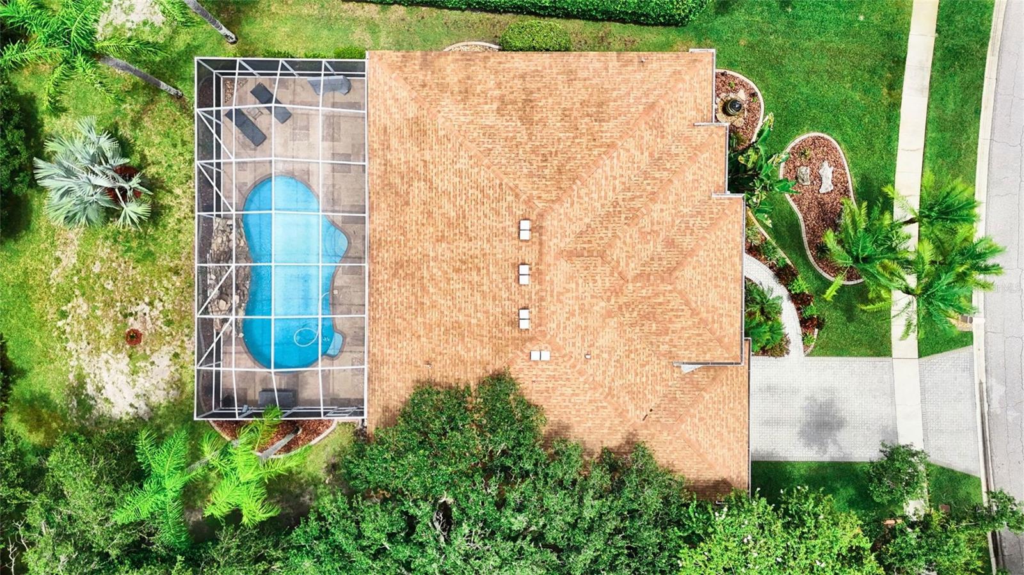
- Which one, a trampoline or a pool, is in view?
pool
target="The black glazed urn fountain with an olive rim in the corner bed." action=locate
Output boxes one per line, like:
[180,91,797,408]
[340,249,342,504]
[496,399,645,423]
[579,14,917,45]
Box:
[728,93,748,112]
